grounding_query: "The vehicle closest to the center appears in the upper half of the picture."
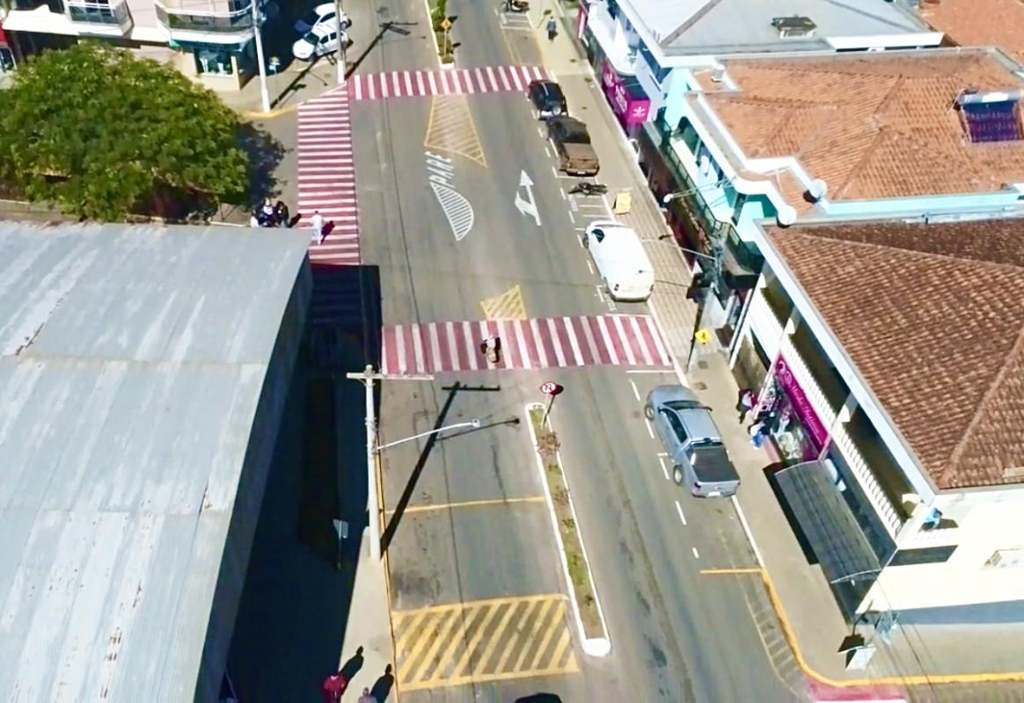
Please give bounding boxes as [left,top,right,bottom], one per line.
[579,216,649,292]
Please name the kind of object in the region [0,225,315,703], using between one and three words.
warehouse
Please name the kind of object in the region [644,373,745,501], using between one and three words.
truck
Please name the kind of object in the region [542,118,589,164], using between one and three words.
truck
